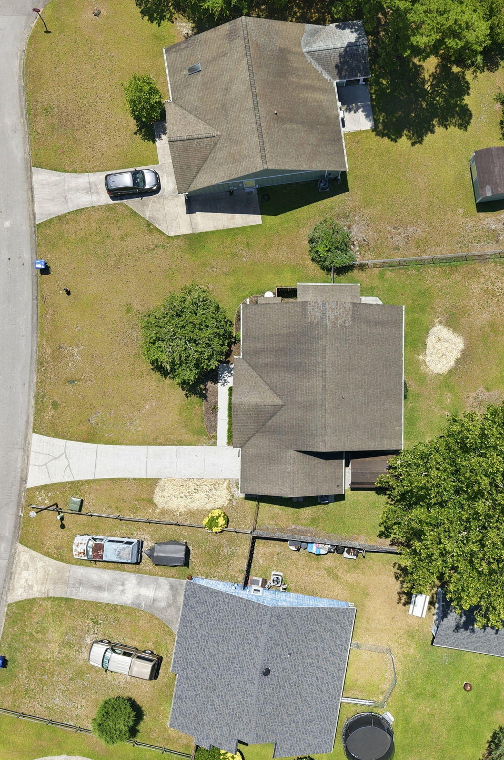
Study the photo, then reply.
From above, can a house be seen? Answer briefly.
Yes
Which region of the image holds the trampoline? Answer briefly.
bottom right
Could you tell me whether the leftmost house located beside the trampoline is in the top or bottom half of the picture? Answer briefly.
bottom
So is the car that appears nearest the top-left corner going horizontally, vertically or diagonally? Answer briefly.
horizontally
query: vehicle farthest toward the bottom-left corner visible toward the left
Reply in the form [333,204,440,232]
[89,639,163,679]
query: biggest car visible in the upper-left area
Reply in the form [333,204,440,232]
[102,167,163,200]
